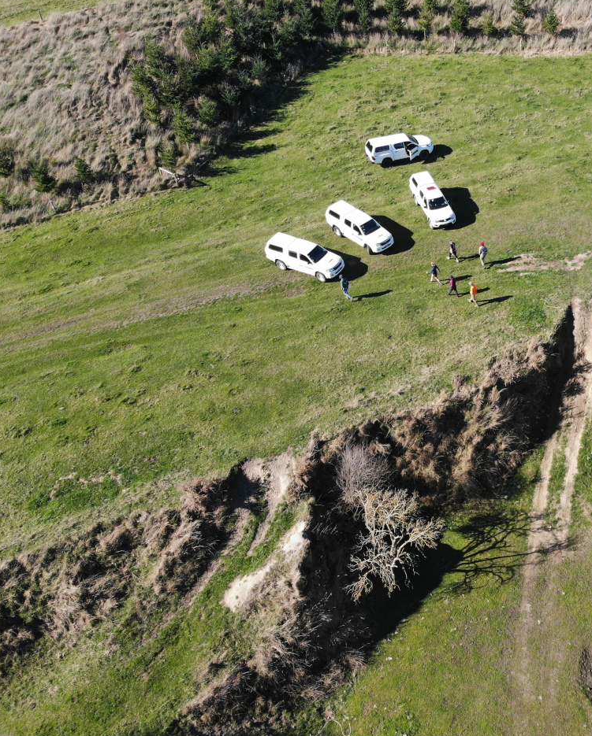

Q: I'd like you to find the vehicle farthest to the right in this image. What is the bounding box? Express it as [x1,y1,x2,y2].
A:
[408,172,458,228]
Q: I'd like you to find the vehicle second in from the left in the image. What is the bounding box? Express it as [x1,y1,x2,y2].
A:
[322,199,397,255]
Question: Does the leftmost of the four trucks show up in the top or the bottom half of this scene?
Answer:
top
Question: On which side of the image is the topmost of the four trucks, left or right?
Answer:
right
